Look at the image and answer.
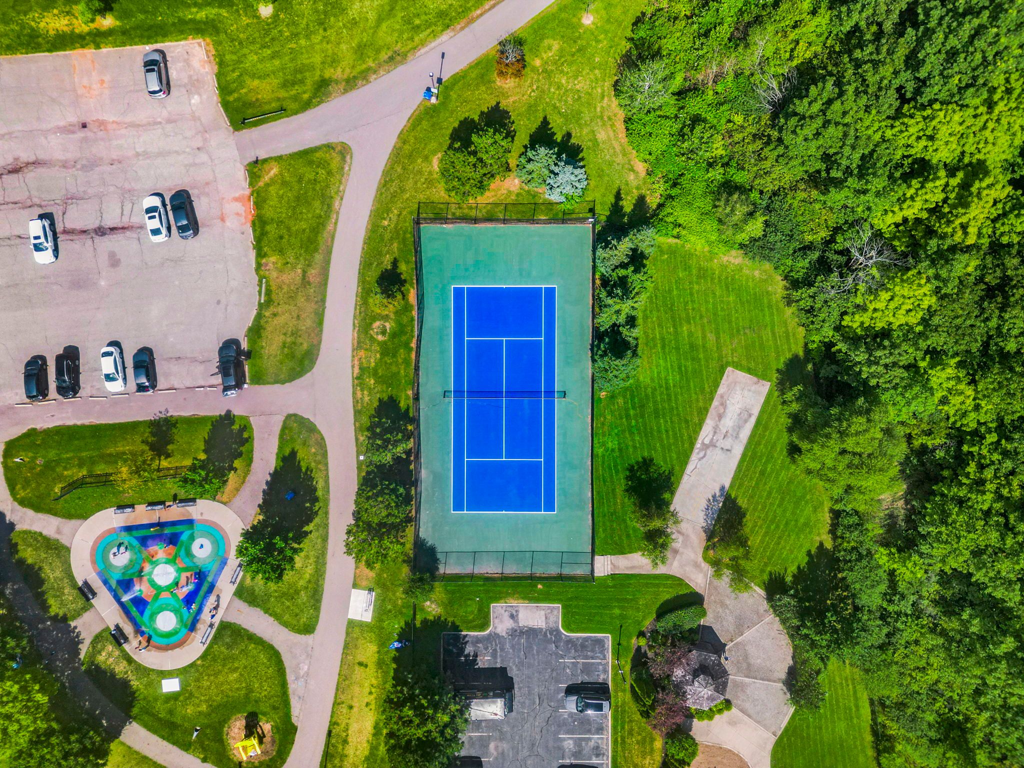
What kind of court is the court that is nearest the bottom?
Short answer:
tennis court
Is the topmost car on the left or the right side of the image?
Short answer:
left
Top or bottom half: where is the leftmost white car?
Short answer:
top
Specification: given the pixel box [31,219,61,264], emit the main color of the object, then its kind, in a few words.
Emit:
white car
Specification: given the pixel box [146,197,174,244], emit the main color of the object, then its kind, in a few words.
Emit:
white car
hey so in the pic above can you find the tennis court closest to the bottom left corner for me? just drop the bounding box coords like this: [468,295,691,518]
[420,223,594,574]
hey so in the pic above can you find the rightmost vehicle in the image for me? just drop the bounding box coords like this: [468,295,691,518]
[564,689,610,714]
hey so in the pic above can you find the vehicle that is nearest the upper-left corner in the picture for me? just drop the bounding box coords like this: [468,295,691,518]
[144,54,171,100]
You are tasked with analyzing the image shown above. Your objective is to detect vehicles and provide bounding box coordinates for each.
[31,219,61,264]
[25,359,52,399]
[135,351,160,393]
[564,689,610,714]
[213,346,252,396]
[144,54,171,100]
[55,353,83,397]
[173,194,200,240]
[146,197,174,244]
[105,346,131,392]
[449,687,516,720]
